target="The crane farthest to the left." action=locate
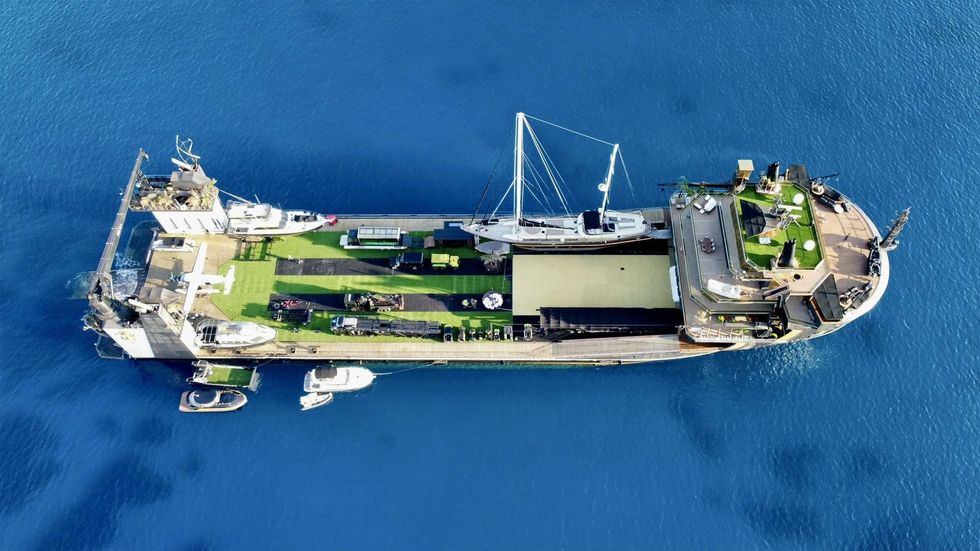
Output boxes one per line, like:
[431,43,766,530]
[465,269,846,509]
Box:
[69,146,153,338]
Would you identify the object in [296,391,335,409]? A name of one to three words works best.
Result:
boat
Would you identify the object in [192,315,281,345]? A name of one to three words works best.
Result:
boat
